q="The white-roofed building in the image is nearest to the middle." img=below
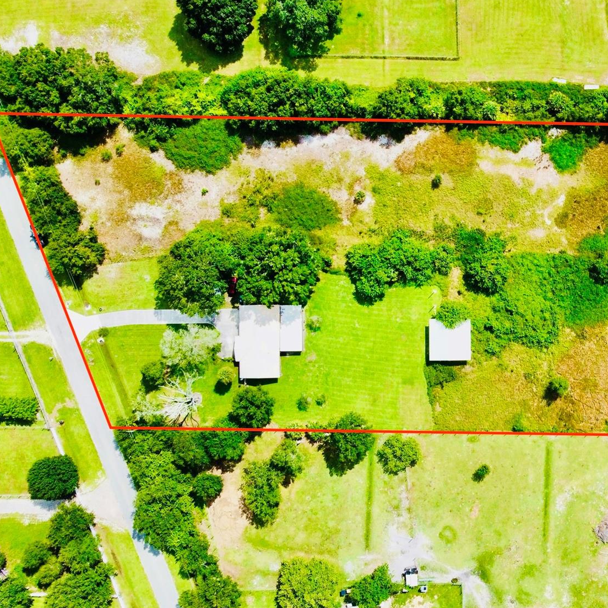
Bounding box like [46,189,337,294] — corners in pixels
[235,305,304,378]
